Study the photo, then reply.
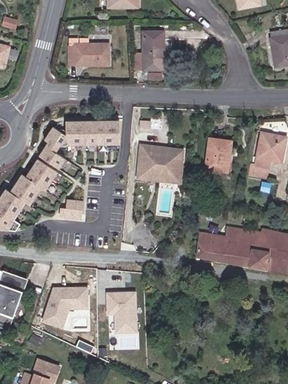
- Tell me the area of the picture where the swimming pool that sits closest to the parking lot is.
center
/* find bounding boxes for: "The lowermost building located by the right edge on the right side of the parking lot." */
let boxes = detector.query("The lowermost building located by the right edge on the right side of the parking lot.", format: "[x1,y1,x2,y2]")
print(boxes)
[198,224,288,274]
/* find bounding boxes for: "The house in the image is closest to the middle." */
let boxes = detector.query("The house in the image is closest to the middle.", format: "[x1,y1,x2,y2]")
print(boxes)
[136,140,185,184]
